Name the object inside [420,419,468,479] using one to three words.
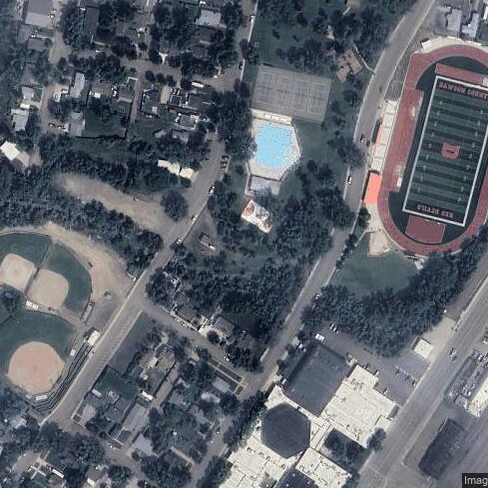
building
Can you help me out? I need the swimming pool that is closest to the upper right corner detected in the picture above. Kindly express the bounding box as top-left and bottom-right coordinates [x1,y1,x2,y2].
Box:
[249,119,301,181]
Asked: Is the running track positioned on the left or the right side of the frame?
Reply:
right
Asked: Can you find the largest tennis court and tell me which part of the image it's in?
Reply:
top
